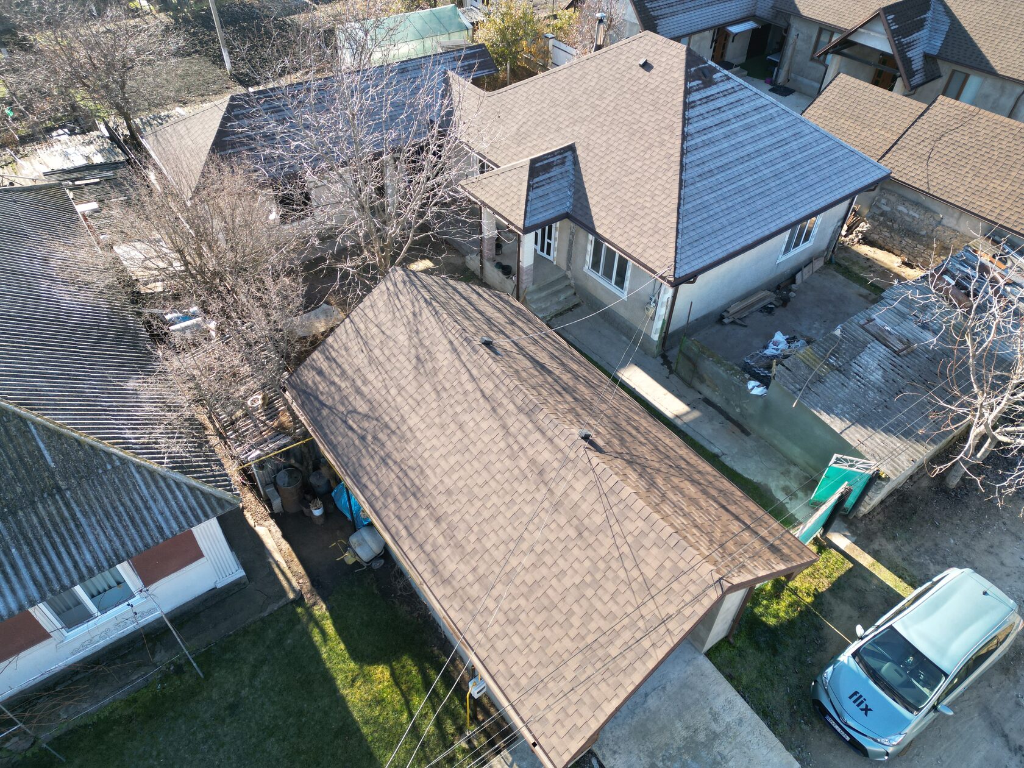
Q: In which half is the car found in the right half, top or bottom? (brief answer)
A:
bottom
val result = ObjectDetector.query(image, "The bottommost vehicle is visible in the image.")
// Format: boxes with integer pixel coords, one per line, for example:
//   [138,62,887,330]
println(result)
[808,567,1021,764]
